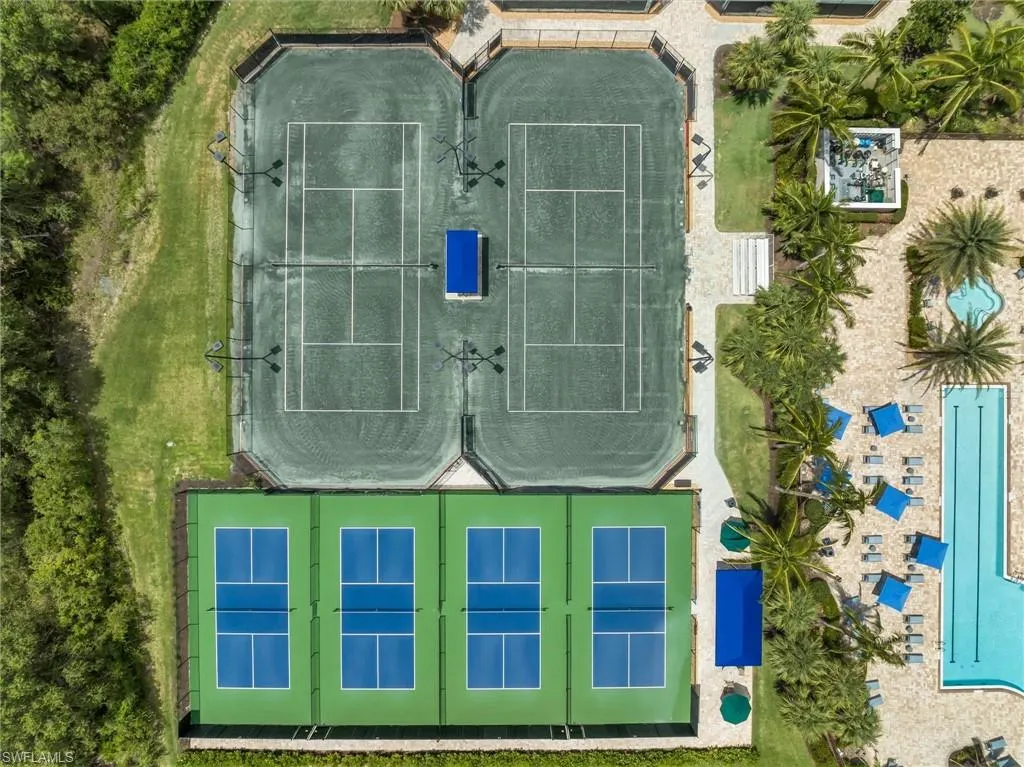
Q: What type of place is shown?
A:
sports ground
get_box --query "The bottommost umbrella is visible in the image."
[720,692,751,725]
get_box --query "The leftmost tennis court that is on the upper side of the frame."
[231,47,464,489]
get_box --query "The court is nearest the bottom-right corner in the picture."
[567,492,691,725]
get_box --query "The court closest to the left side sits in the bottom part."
[187,492,313,725]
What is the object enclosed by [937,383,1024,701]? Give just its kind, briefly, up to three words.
swimming pool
